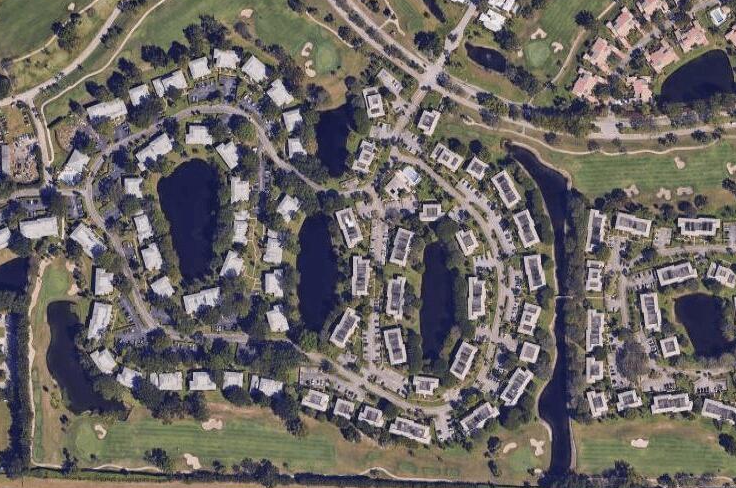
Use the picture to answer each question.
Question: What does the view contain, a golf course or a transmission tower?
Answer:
golf course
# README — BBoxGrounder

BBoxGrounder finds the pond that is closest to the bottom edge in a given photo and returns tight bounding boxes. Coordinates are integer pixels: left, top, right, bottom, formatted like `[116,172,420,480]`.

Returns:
[675,293,729,357]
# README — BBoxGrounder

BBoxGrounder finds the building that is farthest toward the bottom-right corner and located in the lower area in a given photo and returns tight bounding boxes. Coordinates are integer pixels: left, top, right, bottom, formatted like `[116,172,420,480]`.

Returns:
[702,397,736,423]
